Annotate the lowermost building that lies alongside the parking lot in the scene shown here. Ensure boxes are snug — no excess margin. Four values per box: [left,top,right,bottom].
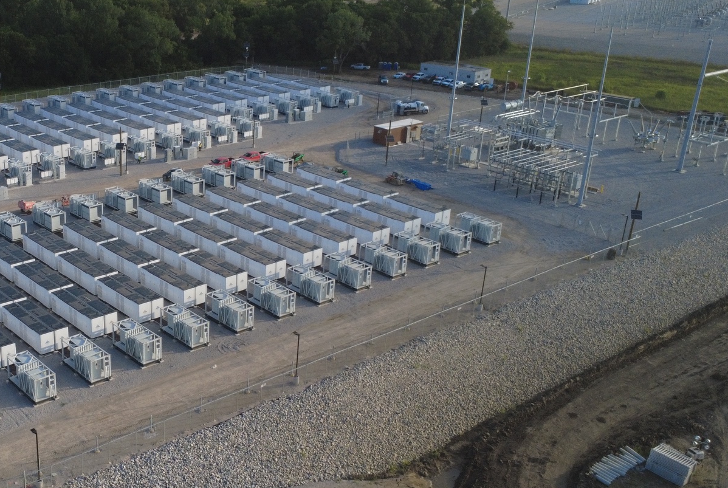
[373,116,428,148]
